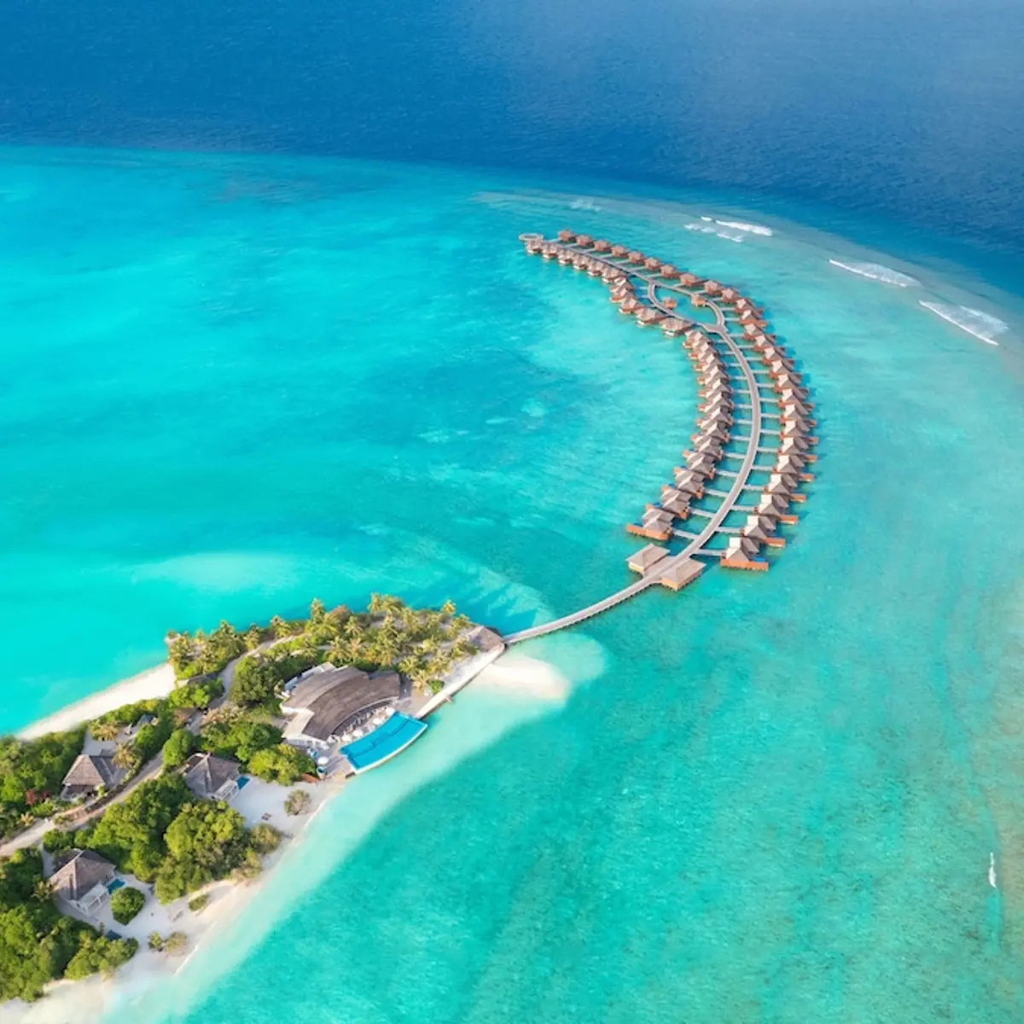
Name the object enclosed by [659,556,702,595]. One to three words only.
building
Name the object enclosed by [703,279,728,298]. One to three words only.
house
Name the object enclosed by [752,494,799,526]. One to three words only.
house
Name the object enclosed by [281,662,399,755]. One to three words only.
building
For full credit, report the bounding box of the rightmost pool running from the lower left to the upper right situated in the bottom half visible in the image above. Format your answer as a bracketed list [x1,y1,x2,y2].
[339,710,428,777]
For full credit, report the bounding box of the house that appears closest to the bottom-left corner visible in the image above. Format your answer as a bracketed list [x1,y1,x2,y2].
[46,848,113,914]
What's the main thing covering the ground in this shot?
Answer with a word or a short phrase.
water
